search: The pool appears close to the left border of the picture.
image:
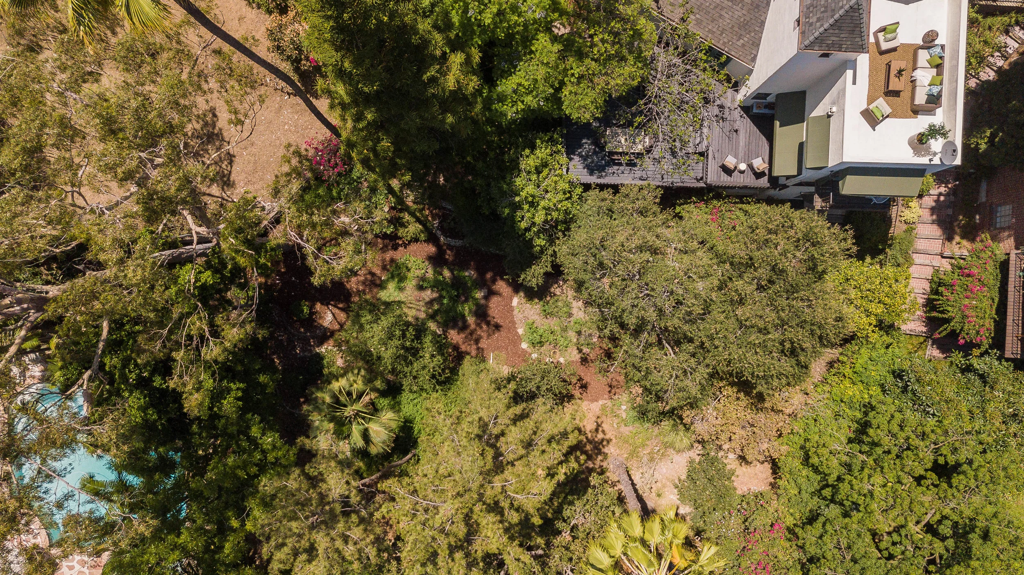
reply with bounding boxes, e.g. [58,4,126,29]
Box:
[9,381,191,539]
